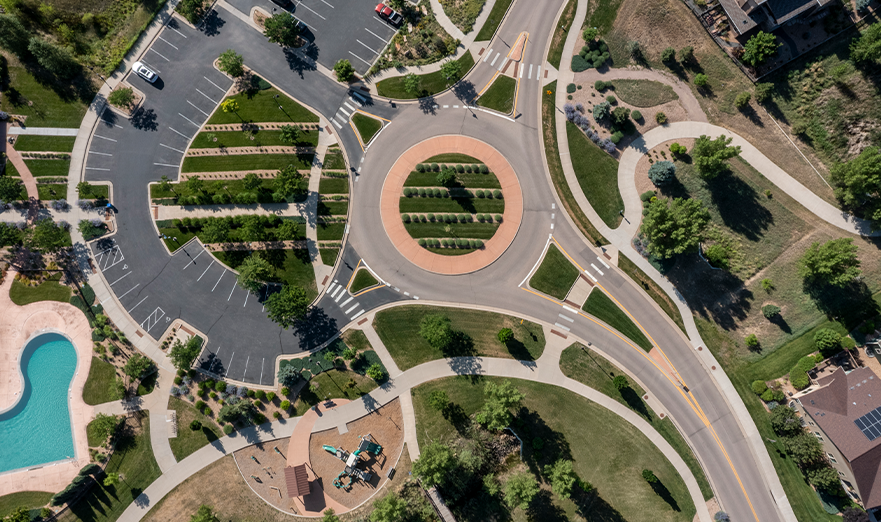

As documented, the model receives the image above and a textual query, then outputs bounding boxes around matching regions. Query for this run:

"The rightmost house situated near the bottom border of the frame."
[782,350,881,508]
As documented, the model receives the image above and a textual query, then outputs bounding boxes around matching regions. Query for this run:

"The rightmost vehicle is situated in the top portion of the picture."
[373,1,405,28]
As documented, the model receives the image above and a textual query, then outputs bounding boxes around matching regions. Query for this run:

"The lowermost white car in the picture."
[129,60,158,83]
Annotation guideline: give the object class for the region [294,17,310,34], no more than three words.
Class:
car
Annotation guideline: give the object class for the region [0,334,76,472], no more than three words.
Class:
swimming pool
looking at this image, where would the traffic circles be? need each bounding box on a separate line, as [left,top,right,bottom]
[356,109,547,300]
